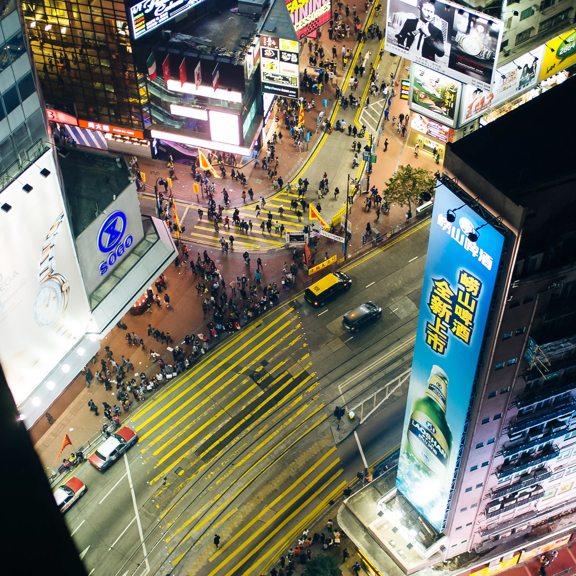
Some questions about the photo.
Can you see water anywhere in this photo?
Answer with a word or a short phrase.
No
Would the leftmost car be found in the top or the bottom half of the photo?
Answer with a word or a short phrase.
bottom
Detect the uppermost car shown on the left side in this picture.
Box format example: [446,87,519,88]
[88,427,138,473]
